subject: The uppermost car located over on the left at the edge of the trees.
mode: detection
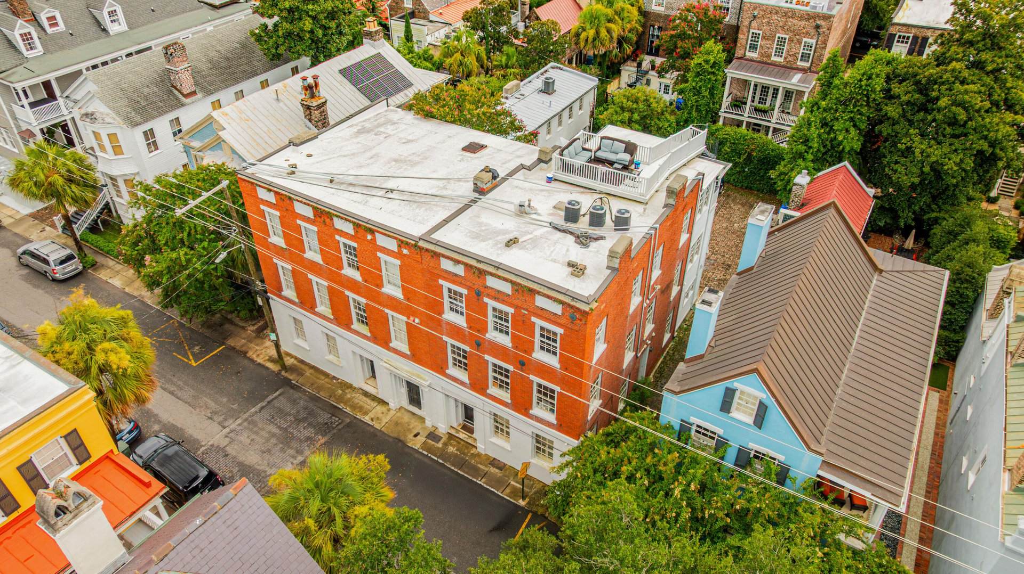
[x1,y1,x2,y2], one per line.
[13,235,83,282]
